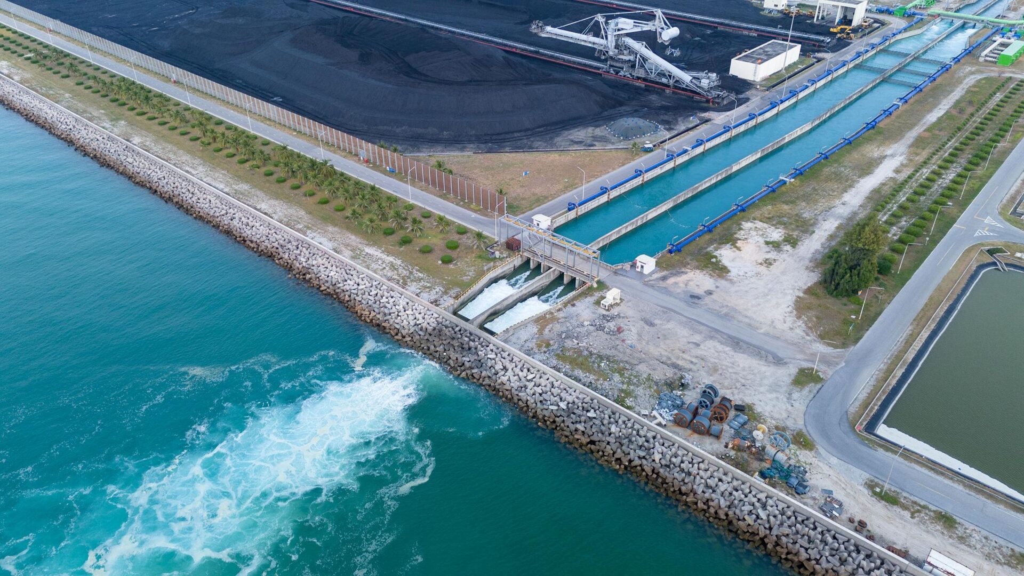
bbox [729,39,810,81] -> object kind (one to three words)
building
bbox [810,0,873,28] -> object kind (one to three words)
shed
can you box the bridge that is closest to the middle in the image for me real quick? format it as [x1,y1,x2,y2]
[521,240,614,289]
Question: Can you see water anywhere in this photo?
Yes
